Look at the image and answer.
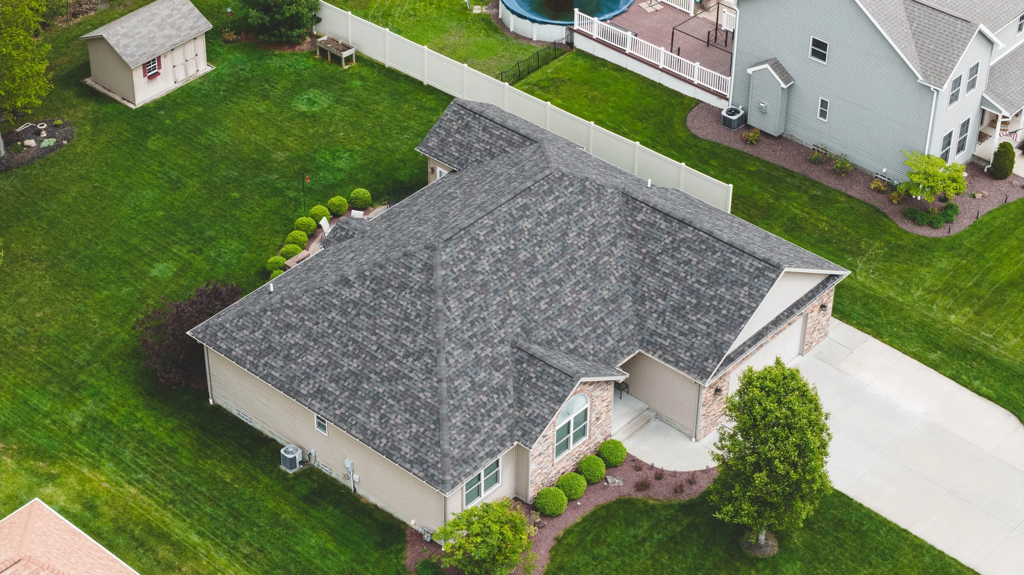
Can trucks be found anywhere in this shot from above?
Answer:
No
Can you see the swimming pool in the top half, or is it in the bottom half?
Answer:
top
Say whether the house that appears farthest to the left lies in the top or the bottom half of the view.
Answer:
bottom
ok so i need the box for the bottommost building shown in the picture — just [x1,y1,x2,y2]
[0,497,142,575]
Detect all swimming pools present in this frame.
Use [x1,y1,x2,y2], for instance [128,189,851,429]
[488,0,637,45]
